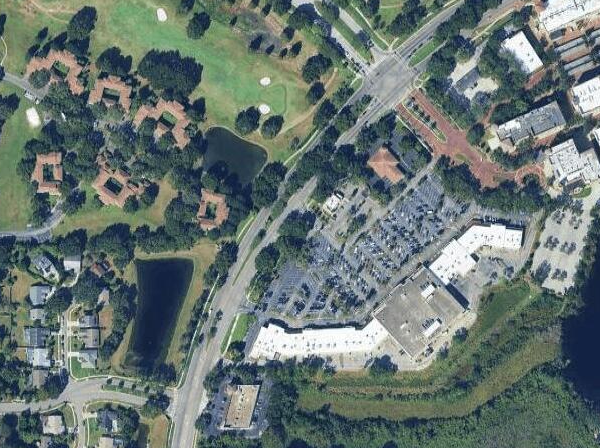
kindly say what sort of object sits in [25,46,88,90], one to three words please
building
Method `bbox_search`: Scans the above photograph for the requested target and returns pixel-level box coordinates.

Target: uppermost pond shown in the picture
[204,127,267,189]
